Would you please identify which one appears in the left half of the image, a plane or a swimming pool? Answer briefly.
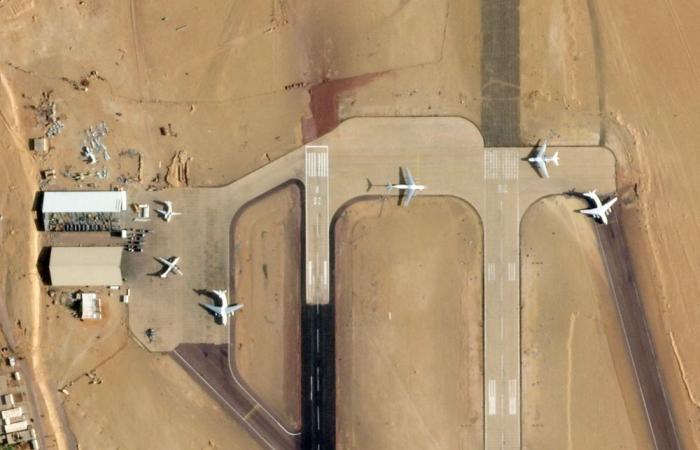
plane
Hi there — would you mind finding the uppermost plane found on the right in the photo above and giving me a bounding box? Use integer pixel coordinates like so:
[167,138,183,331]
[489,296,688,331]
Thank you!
[528,140,558,178]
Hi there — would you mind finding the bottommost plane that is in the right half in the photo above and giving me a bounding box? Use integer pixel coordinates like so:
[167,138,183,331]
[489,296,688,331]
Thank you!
[579,189,615,224]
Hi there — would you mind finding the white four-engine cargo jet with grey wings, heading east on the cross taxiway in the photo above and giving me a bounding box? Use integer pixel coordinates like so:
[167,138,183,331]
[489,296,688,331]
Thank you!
[388,167,426,207]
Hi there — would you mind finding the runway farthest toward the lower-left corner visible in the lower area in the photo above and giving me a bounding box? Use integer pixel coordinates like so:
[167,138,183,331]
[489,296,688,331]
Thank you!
[300,146,336,450]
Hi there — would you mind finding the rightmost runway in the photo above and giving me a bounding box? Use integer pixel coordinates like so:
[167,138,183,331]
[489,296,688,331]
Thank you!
[482,0,522,450]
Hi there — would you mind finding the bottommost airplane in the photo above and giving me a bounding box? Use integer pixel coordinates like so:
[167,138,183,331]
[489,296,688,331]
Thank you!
[204,291,244,326]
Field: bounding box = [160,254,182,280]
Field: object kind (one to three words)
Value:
airplane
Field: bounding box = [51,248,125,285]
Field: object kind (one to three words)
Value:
hangar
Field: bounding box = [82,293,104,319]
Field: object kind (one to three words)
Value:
building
